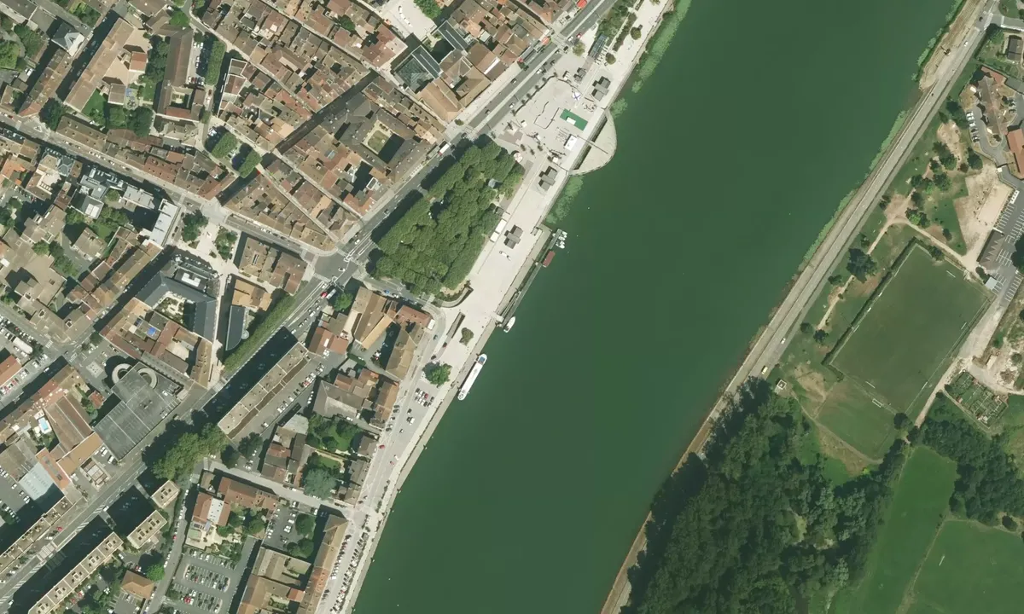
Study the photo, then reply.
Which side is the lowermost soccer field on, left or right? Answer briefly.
right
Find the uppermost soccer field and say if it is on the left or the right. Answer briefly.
right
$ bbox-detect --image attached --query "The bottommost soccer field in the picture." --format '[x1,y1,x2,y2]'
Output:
[816,369,907,458]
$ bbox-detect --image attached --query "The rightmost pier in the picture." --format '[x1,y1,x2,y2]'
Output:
[571,113,617,174]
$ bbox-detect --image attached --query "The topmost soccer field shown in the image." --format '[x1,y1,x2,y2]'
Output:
[831,243,990,412]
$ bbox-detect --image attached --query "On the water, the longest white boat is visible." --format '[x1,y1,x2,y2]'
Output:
[457,355,486,401]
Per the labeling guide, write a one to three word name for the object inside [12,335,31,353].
vehicle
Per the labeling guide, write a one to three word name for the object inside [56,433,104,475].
building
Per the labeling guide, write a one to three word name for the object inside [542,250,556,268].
vessel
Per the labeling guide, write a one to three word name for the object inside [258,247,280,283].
house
